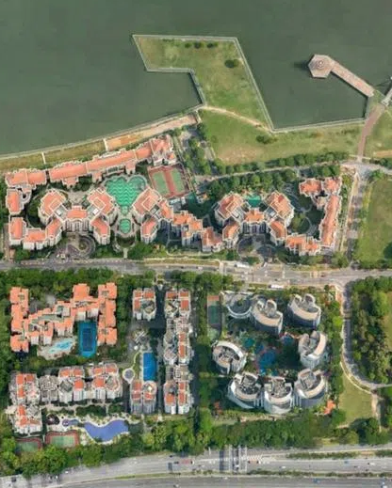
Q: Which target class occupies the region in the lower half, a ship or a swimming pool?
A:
swimming pool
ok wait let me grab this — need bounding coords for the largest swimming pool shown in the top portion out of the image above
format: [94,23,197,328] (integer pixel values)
[105,174,148,209]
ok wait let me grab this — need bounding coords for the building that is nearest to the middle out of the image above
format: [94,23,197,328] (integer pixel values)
[170,212,226,254]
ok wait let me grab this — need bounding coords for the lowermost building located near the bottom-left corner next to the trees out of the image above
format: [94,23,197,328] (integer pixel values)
[15,404,46,436]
